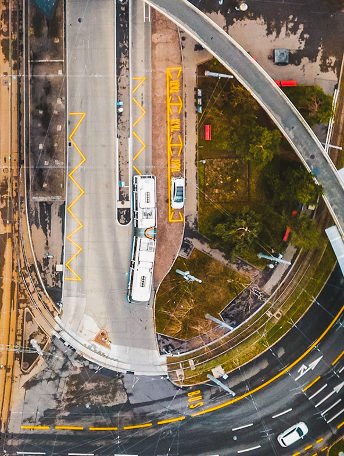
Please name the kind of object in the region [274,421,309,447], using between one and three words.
car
